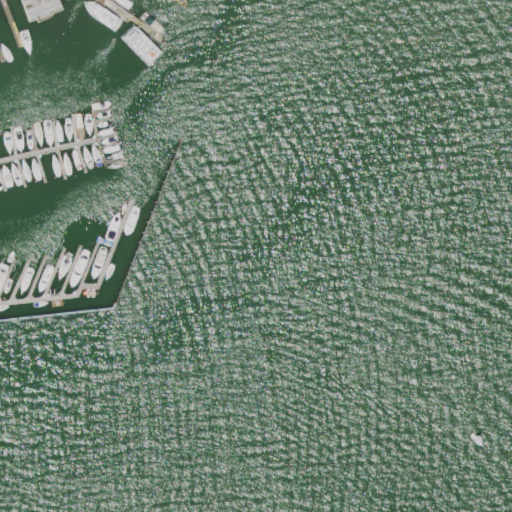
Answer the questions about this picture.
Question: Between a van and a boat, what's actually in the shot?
boat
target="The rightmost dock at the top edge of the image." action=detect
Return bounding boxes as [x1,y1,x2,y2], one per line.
[94,0,160,40]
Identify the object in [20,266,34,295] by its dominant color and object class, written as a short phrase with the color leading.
white boat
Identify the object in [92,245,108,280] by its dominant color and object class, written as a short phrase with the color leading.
white boat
